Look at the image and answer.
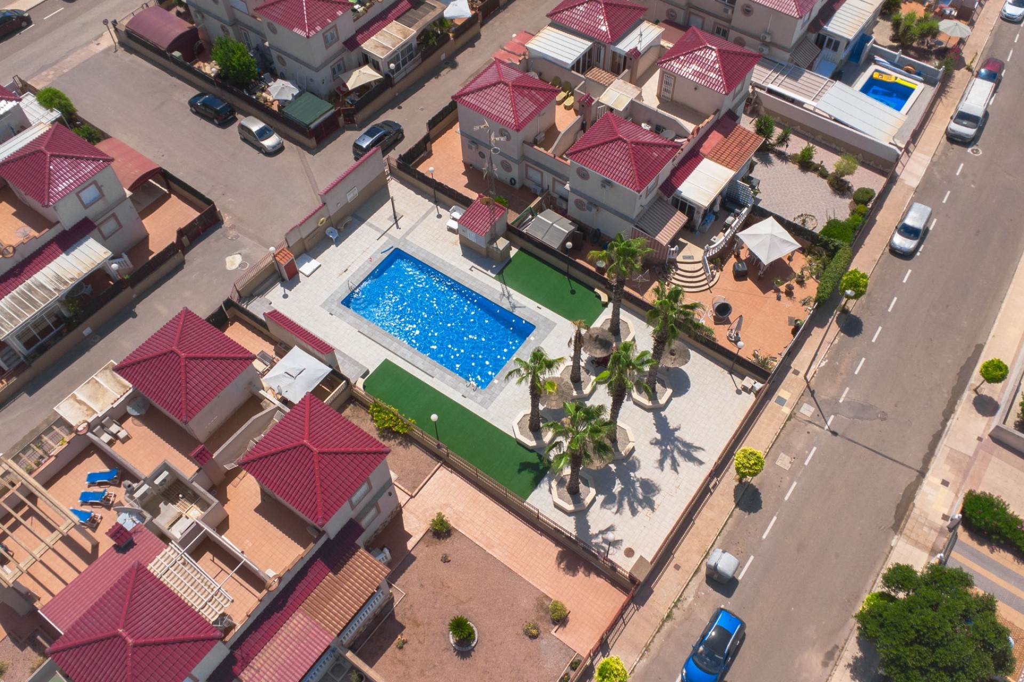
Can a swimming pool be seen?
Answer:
Yes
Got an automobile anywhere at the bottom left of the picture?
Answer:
No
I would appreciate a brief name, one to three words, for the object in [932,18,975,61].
umbrella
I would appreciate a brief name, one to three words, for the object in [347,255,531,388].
swimming pool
